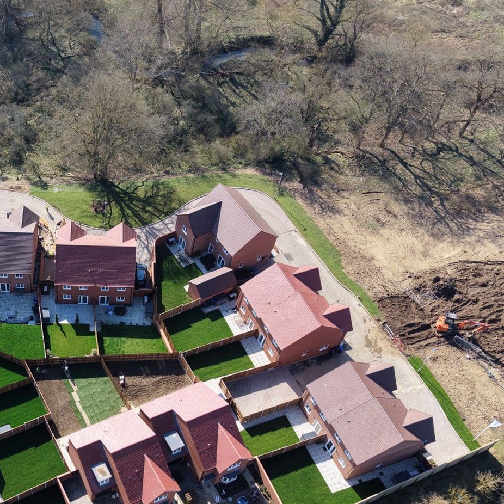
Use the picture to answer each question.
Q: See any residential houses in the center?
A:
Yes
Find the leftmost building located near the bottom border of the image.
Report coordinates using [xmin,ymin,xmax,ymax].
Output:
[68,409,181,504]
